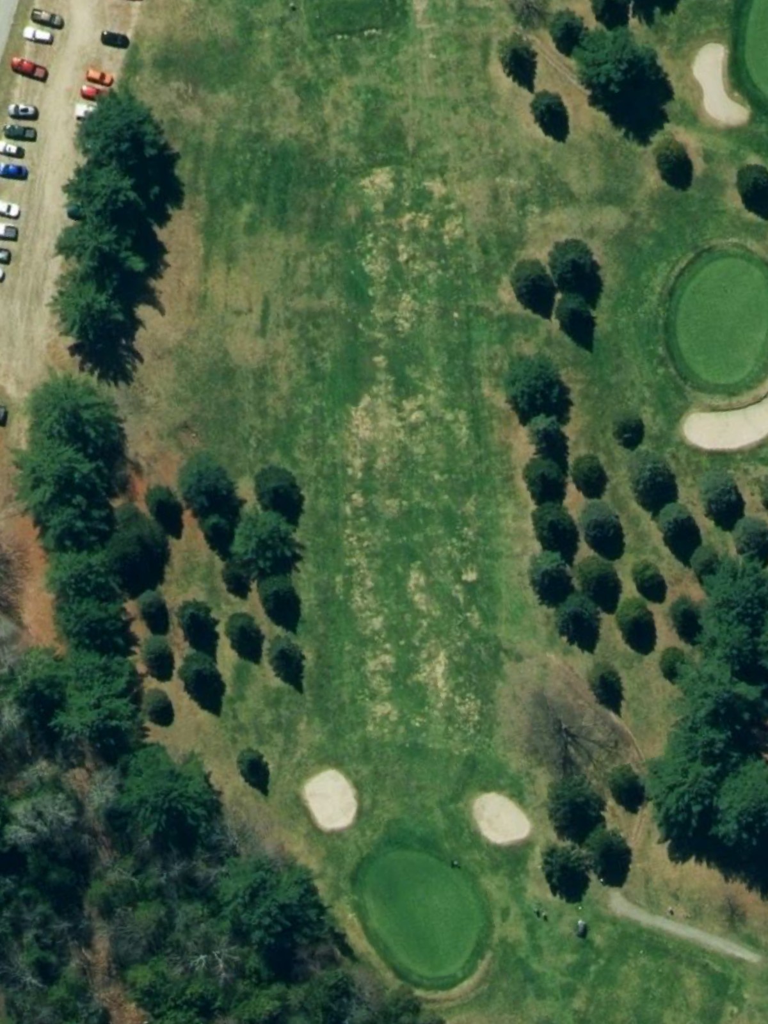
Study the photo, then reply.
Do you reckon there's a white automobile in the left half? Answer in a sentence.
Yes, a white automobile appears in the left half.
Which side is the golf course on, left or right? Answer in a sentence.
The golf course is on the right side of the image.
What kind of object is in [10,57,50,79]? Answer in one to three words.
truck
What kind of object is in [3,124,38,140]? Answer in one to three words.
vehicle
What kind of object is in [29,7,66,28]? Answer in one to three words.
truck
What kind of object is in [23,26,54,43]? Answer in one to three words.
car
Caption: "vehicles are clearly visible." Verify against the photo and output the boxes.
[0,224,19,238]
[0,162,28,178]
[8,103,39,119]
[79,83,107,99]
[74,102,95,118]
[0,250,11,263]
[0,142,25,158]
[86,68,114,85]
[3,124,38,140]
[10,57,50,79]
[29,7,66,28]
[23,26,54,43]
[101,30,131,46]
[0,202,21,217]
[63,204,91,217]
